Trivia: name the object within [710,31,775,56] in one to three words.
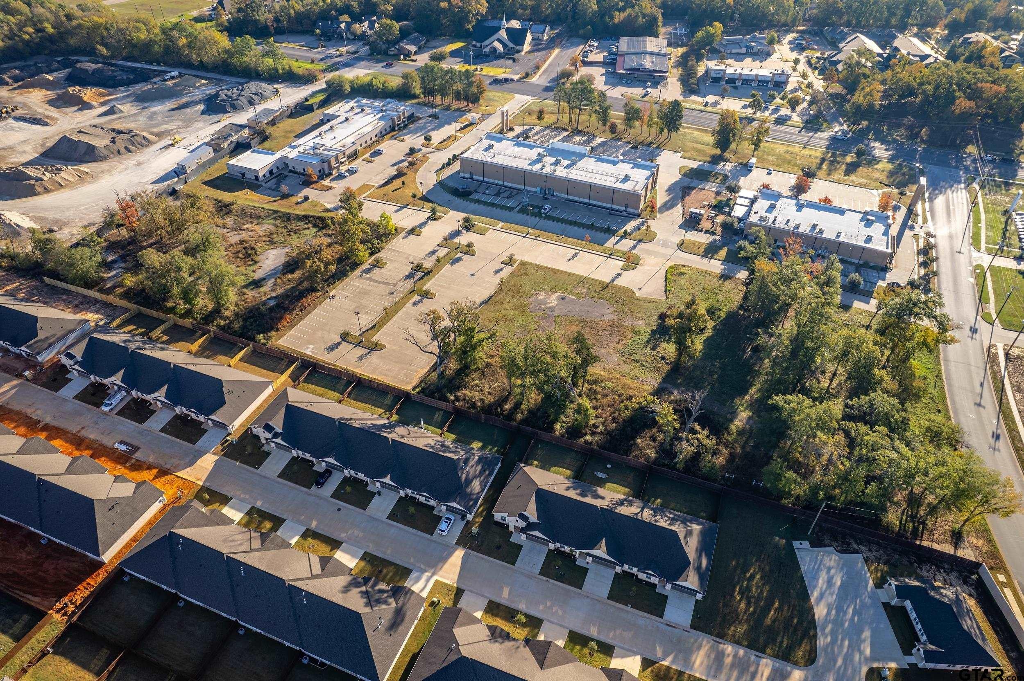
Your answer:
building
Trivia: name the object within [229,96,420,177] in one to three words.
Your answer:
building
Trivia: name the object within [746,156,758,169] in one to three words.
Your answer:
vehicle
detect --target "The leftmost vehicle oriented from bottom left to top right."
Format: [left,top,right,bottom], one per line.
[101,388,127,411]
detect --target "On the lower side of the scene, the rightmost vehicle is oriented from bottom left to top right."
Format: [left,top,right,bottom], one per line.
[437,515,457,536]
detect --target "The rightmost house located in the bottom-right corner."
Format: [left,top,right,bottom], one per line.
[879,572,1014,681]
